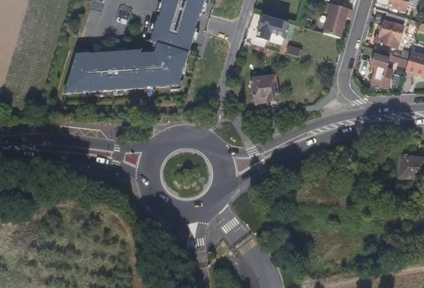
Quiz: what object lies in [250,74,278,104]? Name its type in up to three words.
house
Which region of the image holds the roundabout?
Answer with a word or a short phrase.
center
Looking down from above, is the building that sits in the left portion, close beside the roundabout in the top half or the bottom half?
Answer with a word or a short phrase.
top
